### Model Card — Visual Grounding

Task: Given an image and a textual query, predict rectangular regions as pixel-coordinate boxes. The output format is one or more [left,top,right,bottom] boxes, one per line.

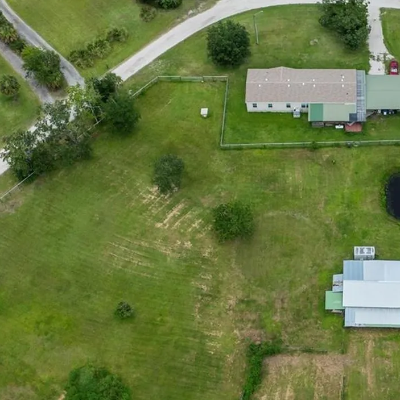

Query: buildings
[326,260,400,332]
[245,64,367,131]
